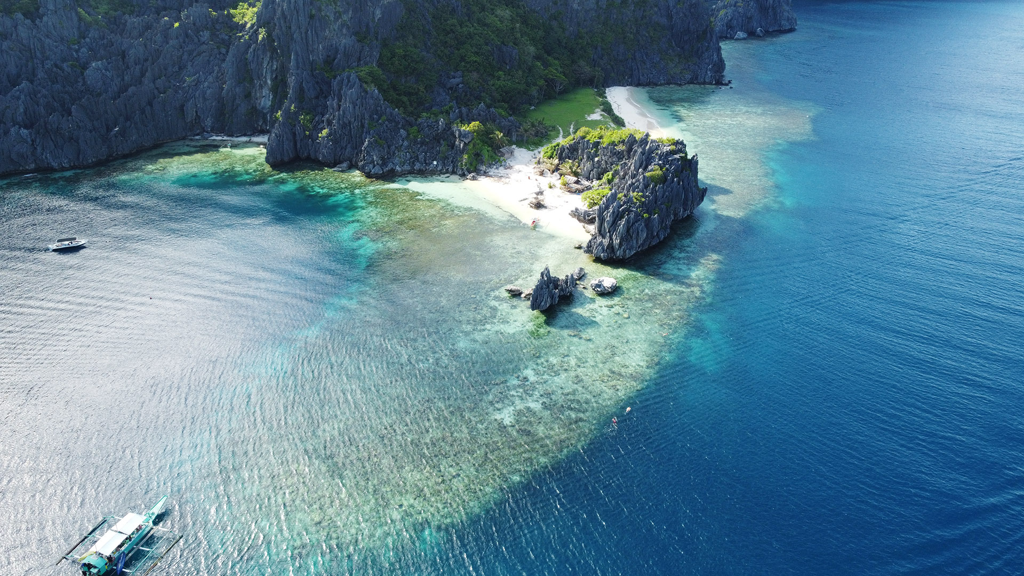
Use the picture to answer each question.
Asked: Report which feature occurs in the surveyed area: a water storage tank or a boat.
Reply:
boat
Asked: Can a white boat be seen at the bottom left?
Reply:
Yes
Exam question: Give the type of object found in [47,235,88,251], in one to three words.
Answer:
boat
